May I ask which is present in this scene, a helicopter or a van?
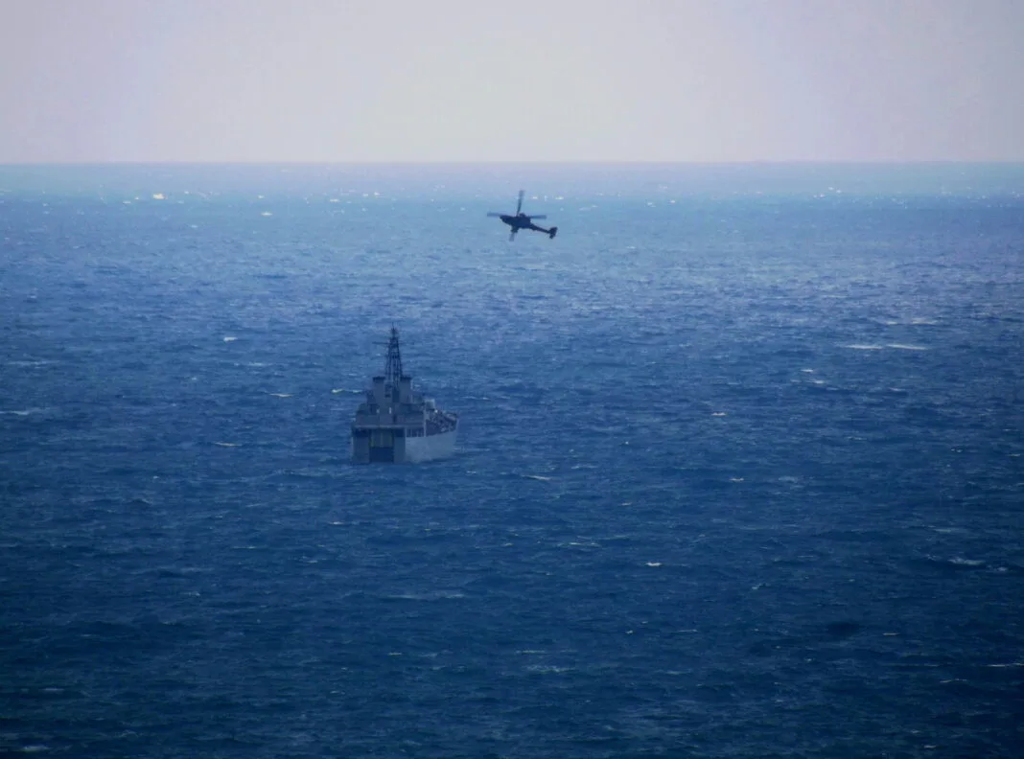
helicopter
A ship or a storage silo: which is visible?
ship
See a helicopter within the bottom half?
No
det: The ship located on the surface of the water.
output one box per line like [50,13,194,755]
[350,322,458,463]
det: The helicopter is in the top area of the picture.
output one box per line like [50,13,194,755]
[487,190,558,240]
